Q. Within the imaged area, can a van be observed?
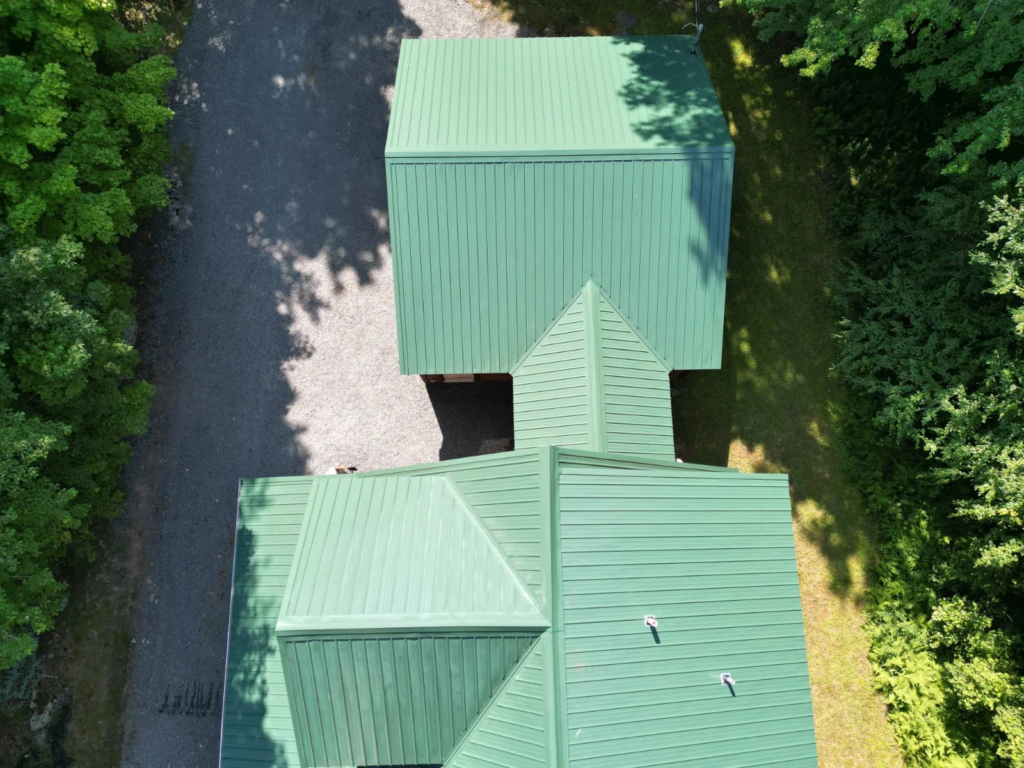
No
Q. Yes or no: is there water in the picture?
No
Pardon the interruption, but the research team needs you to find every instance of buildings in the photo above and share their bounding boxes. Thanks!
[385,37,736,385]
[217,446,817,768]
